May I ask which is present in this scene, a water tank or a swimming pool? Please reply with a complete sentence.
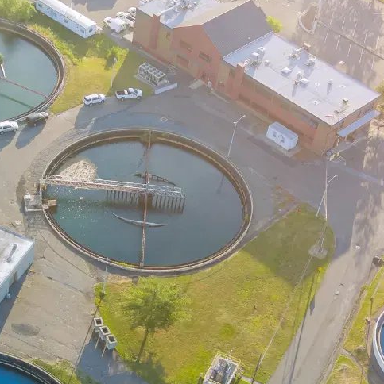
The image shows a water tank.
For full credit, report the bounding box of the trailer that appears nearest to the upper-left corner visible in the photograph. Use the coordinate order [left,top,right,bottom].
[23,0,98,36]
